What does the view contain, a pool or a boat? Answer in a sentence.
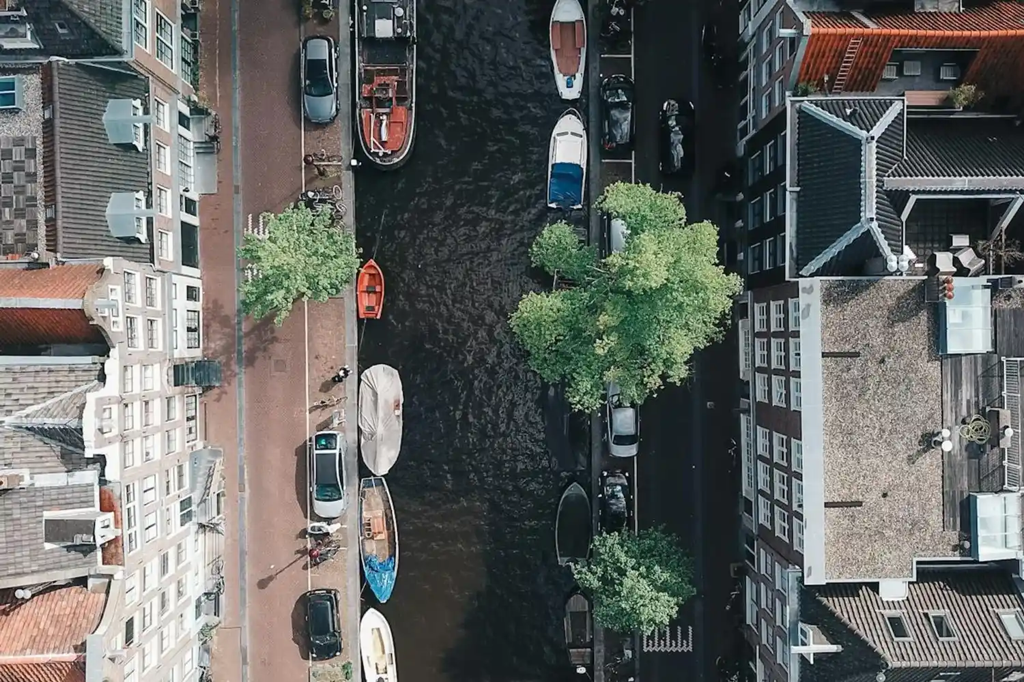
I can see a boat in this picture.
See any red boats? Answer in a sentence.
Yes, looking at the shot, I can spot a red boat.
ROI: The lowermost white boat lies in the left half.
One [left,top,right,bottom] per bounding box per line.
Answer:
[361,607,397,682]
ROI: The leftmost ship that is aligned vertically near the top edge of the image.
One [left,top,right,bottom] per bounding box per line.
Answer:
[356,0,417,165]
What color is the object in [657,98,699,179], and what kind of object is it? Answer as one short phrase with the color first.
black car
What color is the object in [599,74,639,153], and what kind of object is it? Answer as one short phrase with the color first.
black car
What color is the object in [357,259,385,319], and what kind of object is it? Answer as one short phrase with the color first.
red boat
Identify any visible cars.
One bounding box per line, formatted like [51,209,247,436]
[657,98,699,179]
[598,467,635,539]
[602,377,643,458]
[307,432,348,517]
[297,35,339,125]
[599,74,639,153]
[305,587,344,662]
